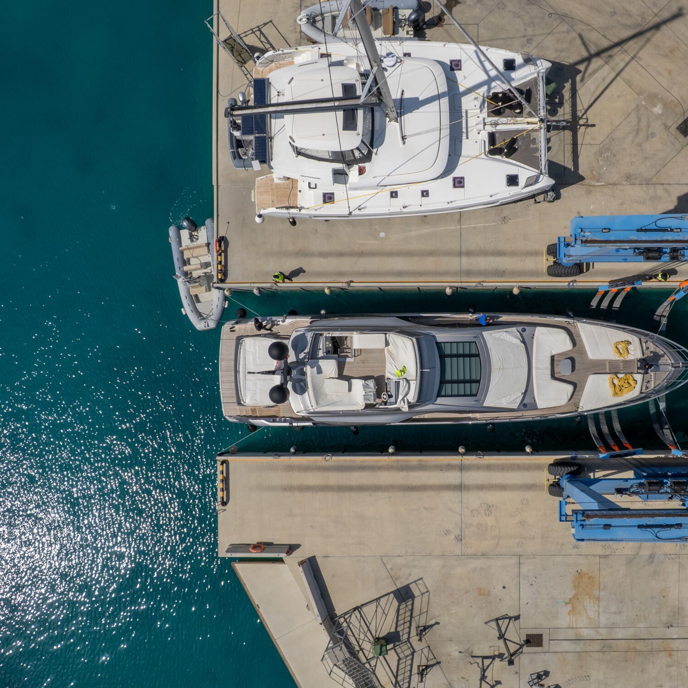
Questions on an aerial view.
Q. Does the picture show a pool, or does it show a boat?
boat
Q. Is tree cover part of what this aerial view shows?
No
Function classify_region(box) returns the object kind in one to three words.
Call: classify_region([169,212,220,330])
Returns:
boat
